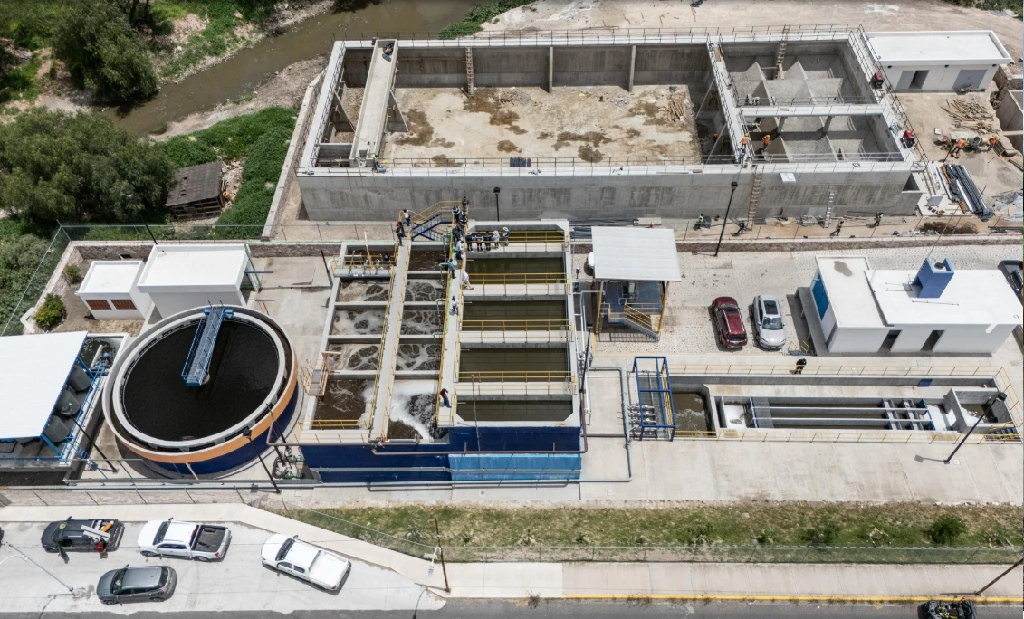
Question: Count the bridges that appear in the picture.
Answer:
1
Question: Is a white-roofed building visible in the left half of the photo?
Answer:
Yes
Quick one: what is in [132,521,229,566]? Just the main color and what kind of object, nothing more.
white truck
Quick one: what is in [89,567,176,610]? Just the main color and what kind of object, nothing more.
gray car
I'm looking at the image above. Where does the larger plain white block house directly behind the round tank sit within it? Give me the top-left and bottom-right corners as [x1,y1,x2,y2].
[137,241,253,316]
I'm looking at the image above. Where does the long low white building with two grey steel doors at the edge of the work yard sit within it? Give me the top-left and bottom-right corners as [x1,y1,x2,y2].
[870,29,1017,95]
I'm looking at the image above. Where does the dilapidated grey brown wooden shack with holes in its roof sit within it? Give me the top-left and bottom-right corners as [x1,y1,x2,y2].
[166,160,225,216]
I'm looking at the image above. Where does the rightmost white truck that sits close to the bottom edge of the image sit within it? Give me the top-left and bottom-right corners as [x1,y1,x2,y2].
[258,537,350,597]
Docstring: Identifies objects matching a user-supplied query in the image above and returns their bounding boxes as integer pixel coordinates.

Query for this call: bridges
[183,296,242,386]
